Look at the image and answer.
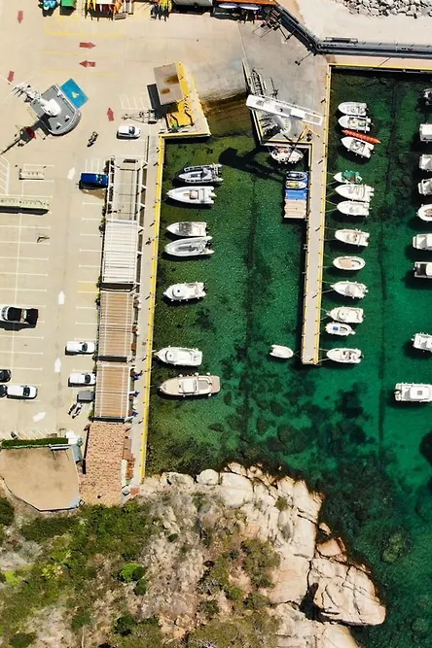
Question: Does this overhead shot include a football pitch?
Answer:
No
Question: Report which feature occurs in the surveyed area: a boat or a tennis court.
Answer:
boat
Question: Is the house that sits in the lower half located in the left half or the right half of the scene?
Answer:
left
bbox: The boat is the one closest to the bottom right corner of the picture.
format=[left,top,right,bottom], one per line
[391,381,432,403]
